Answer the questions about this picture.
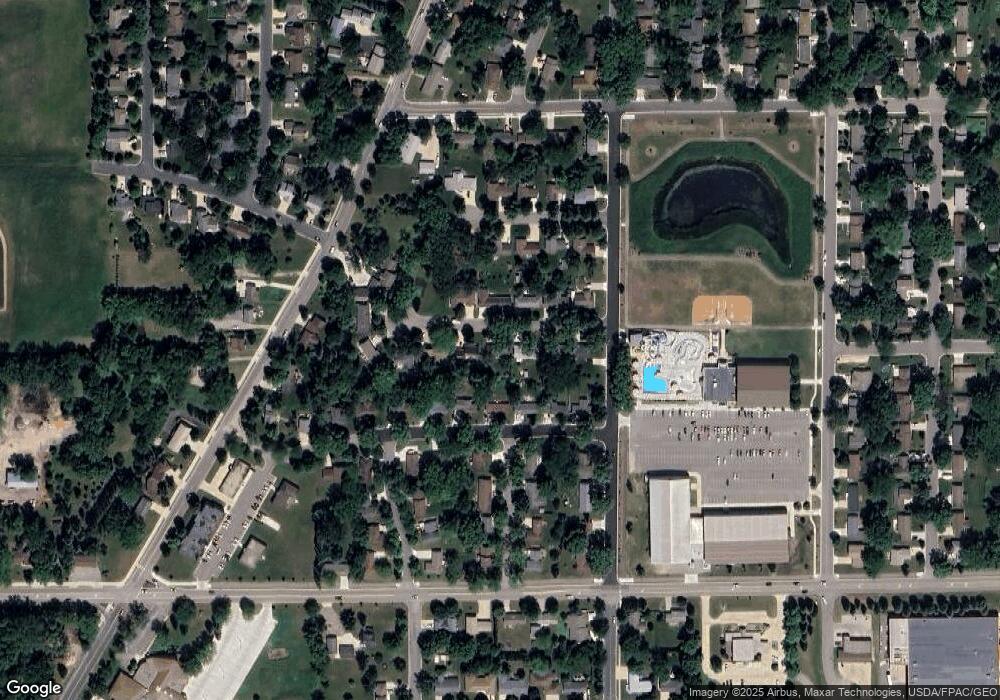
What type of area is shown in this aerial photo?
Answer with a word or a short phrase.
residential area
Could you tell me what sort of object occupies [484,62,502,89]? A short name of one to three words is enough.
house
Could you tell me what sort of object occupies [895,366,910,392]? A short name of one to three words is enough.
house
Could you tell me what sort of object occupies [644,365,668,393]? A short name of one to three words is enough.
swimming pool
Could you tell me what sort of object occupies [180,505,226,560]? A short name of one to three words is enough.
building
